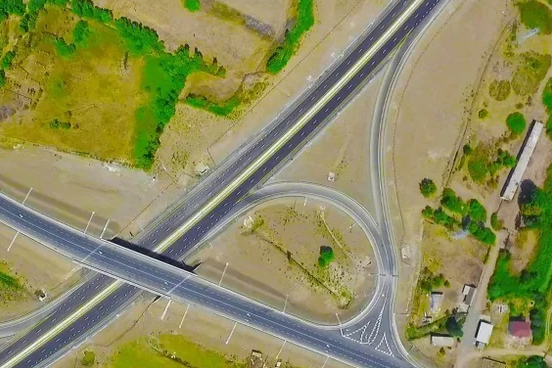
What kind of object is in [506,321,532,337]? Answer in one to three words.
house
